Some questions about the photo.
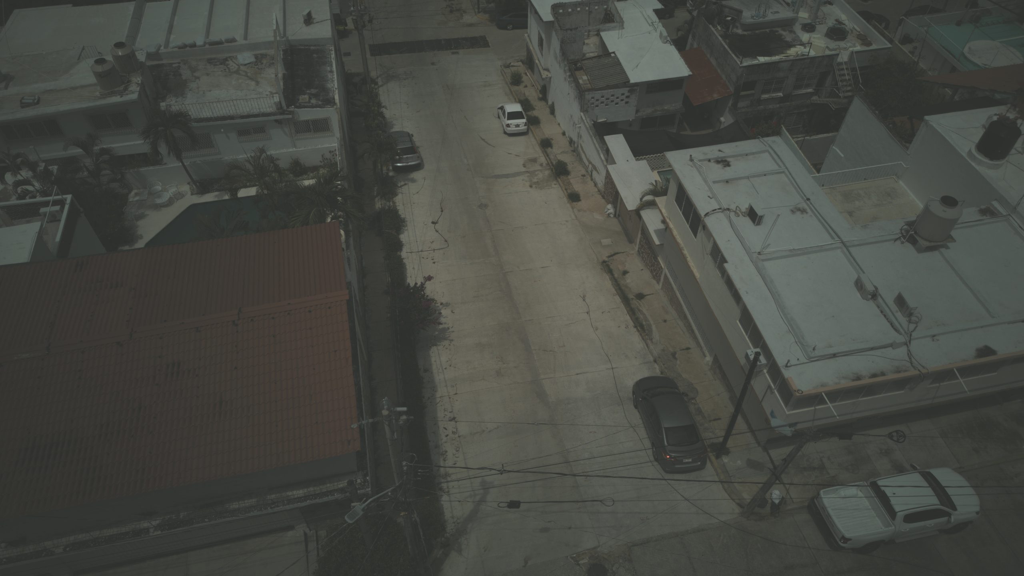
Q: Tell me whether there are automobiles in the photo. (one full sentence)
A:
Yes, looking at the shot, I can spot an automobile.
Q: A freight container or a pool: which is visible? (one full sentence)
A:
This aerial view contains a pool.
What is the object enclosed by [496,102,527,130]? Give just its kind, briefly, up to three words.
car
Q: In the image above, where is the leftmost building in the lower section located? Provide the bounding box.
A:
[0,220,359,546]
